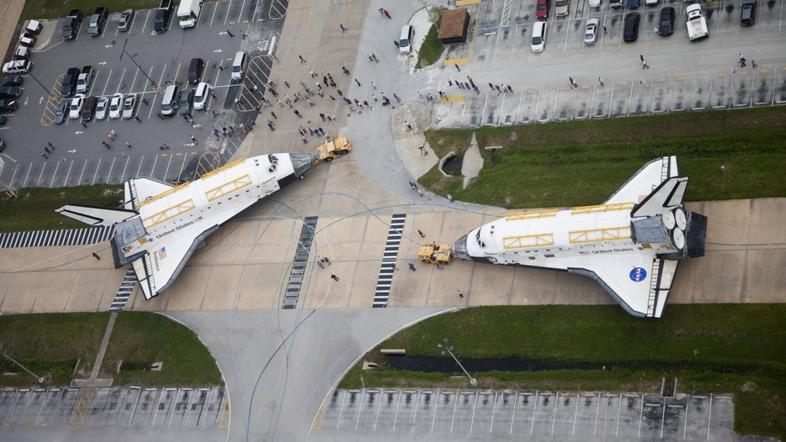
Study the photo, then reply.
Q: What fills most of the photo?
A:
paved ground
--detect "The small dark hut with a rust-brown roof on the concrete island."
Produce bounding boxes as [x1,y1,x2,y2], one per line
[438,8,472,47]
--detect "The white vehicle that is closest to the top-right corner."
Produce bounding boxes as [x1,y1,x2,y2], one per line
[689,3,707,42]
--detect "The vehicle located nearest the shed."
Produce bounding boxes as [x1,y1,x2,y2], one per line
[396,24,415,55]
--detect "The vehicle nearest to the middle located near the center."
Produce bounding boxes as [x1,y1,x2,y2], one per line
[416,244,454,266]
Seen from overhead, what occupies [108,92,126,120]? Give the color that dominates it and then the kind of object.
white car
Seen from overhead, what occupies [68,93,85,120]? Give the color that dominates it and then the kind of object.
white car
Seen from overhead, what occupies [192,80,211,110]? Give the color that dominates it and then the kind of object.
white vehicle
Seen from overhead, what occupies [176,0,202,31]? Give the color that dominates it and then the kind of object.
white vehicle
